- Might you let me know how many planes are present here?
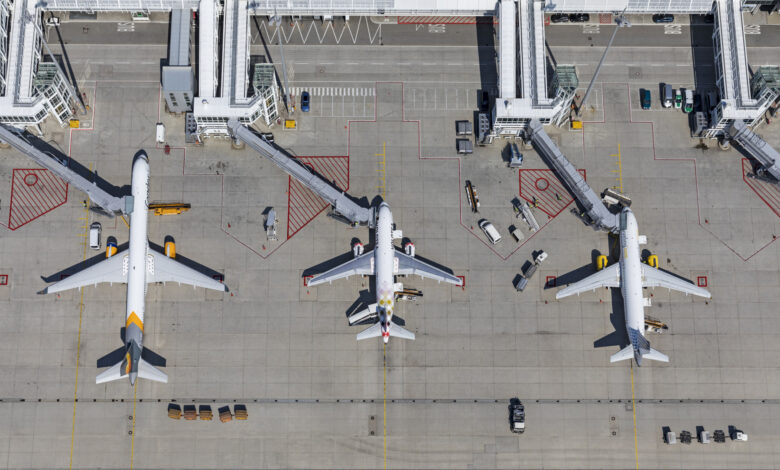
three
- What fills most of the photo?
paved ground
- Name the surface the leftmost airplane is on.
apron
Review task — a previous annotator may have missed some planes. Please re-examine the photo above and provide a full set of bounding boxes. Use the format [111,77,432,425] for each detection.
[36,154,229,385]
[556,207,713,367]
[307,200,463,344]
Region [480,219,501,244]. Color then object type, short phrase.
white vehicle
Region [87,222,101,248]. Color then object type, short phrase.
white vehicle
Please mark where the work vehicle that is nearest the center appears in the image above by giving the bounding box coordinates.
[395,291,424,305]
